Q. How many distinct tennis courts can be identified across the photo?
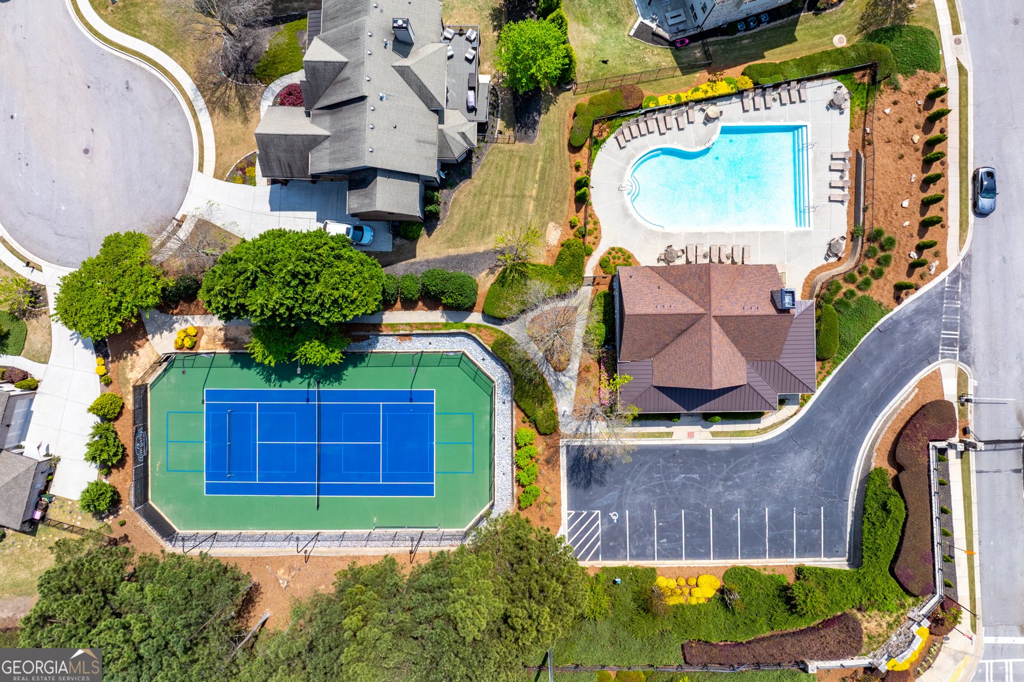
one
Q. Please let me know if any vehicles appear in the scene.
Yes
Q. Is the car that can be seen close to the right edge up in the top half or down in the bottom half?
top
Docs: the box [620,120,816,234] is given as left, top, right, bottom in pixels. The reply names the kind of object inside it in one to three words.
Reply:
swimming pool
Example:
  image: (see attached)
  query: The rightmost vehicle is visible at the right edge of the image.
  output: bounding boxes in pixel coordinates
[971,167,998,215]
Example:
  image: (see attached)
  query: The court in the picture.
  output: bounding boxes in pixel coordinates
[149,352,495,534]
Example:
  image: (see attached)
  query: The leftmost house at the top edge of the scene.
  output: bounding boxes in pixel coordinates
[256,0,478,221]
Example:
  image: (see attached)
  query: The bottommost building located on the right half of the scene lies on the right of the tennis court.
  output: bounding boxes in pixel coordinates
[617,263,821,413]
